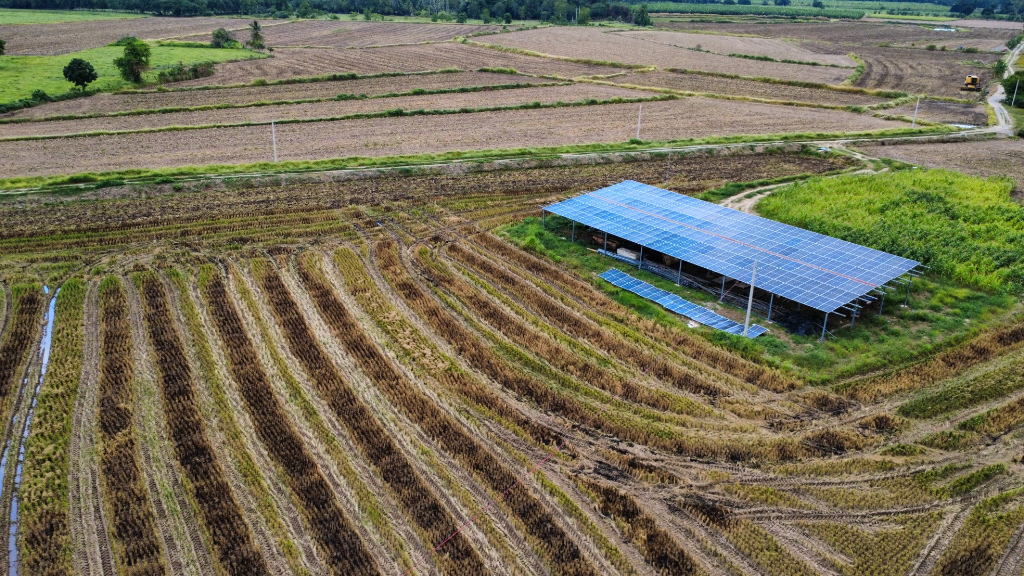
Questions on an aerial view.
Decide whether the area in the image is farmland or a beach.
farmland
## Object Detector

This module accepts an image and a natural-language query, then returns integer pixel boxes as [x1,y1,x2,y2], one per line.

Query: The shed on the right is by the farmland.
[539,178,935,347]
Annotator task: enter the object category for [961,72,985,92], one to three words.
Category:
work vehicle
